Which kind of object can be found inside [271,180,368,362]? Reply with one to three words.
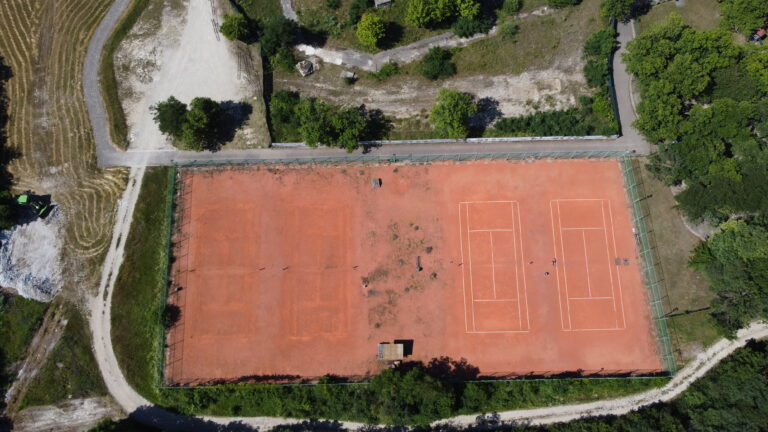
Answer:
tennis court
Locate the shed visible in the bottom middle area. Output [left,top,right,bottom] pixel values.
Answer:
[382,343,401,358]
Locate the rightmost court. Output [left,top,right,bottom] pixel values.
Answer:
[532,176,646,357]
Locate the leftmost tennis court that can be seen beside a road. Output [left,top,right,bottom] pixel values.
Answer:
[173,182,276,364]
